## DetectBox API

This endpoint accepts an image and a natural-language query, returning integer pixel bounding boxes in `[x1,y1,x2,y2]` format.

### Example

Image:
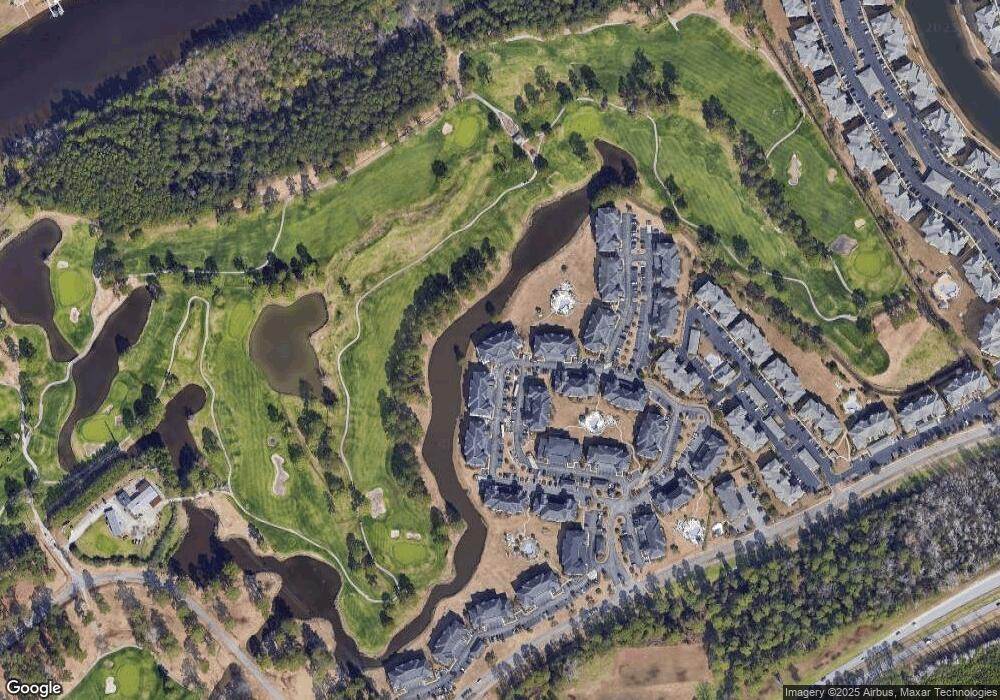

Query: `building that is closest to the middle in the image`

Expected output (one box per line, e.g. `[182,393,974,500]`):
[474,326,524,368]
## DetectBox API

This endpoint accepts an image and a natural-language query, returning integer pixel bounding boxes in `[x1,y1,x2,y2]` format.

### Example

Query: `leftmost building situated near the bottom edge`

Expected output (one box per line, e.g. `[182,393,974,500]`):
[386,656,438,697]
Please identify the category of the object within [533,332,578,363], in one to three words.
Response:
building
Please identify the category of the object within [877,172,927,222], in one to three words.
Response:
building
